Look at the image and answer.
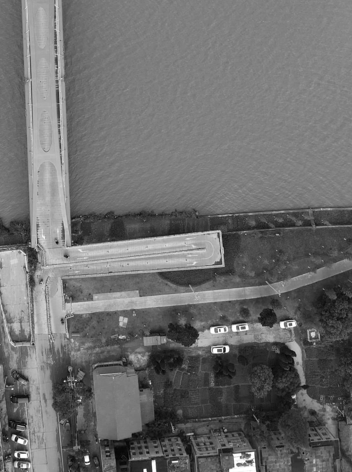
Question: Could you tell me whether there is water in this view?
Yes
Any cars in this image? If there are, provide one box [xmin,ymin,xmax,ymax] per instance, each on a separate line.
[11,434,29,446]
[210,325,228,333]
[14,450,29,459]
[211,344,229,354]
[279,319,297,329]
[10,421,27,431]
[12,370,29,386]
[82,452,91,467]
[231,323,249,332]
[91,453,100,472]
[13,460,31,470]
[11,394,30,404]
